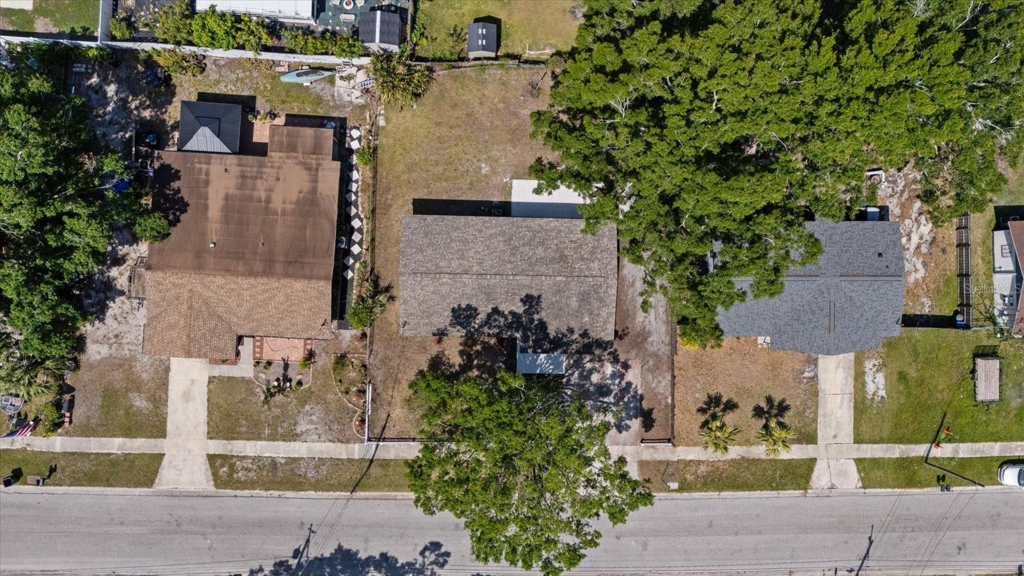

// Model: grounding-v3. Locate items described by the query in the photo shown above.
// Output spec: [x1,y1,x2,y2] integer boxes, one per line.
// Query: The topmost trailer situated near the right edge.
[966,353,1009,416]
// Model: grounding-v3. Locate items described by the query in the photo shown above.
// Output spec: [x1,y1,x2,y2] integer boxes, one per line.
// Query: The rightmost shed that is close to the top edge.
[468,23,497,60]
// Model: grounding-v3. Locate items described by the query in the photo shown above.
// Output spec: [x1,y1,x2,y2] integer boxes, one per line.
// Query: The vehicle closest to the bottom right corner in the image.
[1000,460,1024,487]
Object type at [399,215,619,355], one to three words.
house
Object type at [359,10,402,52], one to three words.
shed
